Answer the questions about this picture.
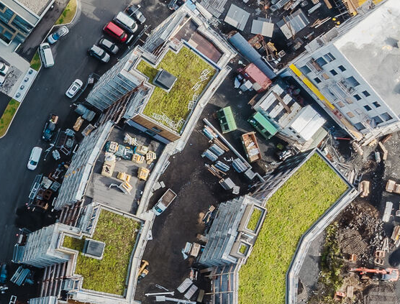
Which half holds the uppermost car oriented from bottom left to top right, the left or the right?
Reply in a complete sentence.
The uppermost car oriented from bottom left to top right appears in the left half of the scene.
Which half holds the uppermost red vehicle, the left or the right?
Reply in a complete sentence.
The uppermost red vehicle appears in the left half of the scene.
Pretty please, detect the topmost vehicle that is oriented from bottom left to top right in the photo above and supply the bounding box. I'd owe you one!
[47,24,67,45]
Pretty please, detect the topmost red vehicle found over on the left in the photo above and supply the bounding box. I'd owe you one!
[103,20,127,43]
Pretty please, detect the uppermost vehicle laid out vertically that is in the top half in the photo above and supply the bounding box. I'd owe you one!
[38,44,53,69]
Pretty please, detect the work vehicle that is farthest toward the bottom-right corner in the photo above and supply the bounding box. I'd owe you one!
[345,266,398,283]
